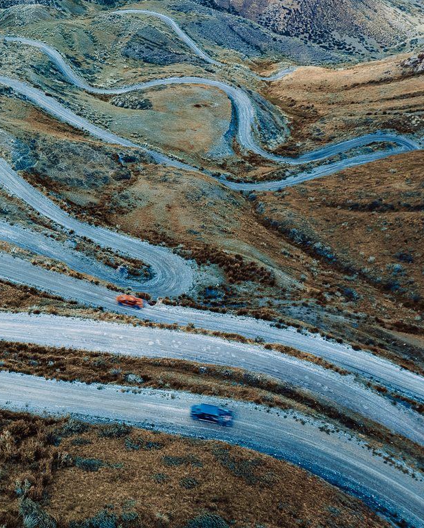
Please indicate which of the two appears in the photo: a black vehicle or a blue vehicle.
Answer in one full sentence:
This aerial view contains a blue vehicle.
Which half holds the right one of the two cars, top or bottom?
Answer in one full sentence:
The right one of the two cars sits in the bottom half of the picture.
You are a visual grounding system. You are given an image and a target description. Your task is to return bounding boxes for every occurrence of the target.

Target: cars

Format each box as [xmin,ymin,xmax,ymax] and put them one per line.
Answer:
[116,296,143,310]
[190,405,236,430]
